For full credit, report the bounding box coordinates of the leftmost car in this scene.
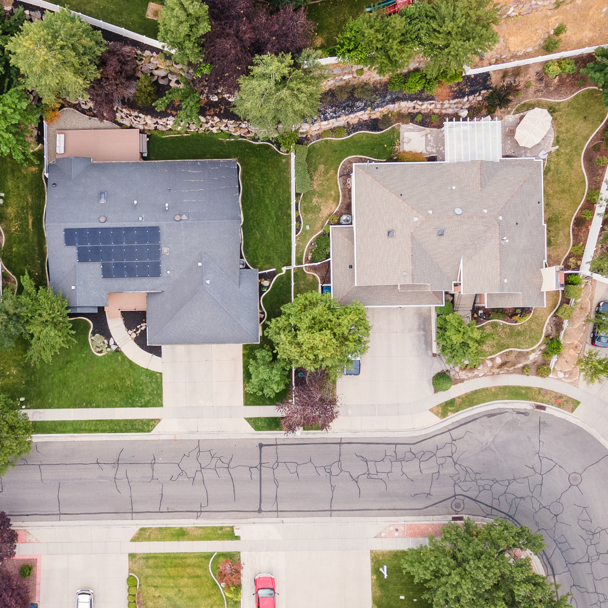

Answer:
[75,588,93,608]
